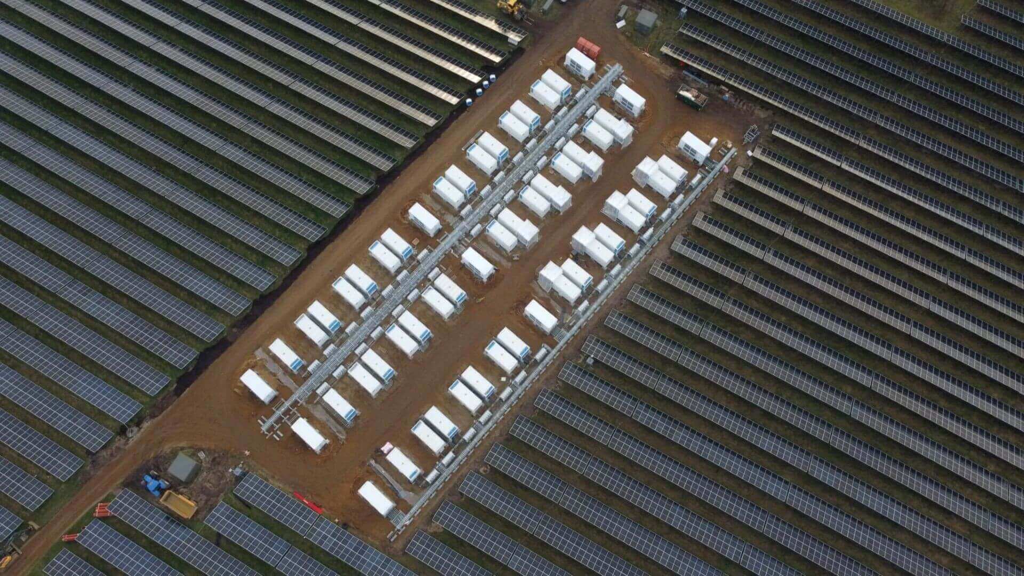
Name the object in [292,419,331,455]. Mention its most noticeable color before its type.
white shipping container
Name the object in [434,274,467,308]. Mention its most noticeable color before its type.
white shipping container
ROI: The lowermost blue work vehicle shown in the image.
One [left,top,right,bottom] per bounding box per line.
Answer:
[141,471,170,498]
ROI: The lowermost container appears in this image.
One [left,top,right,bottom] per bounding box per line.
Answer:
[358,481,397,518]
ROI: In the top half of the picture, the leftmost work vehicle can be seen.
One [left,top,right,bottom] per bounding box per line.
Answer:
[495,0,529,22]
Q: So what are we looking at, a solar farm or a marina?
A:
solar farm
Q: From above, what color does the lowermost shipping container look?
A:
white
